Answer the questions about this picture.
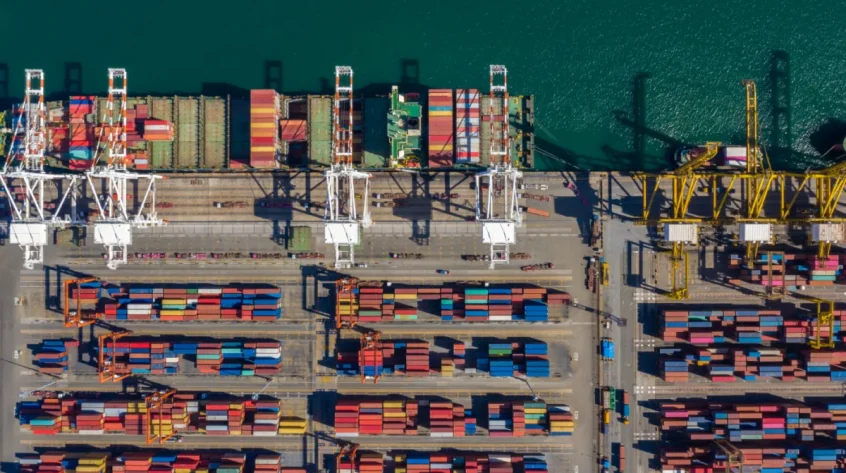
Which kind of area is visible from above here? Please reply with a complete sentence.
It's a port.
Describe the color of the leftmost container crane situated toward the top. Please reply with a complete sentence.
The color of the leftmost container crane situated toward the top is white.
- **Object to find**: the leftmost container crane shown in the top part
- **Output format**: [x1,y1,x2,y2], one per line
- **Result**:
[0,64,97,270]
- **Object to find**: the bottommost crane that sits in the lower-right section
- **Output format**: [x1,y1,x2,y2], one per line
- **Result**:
[711,441,746,473]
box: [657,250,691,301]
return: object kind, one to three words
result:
container crane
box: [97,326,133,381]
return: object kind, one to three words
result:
container crane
